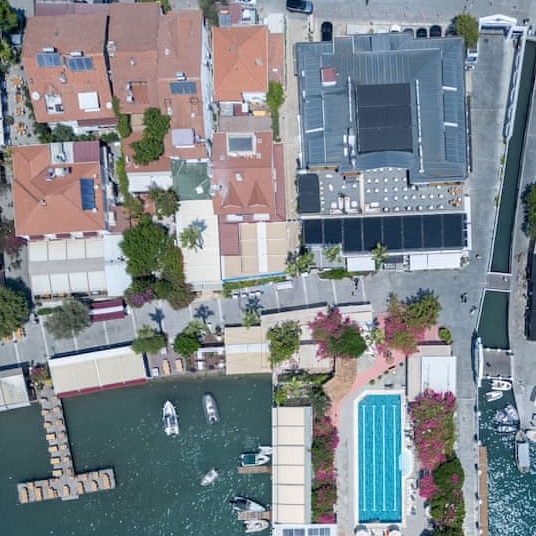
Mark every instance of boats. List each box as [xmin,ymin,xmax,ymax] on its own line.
[525,432,536,443]
[480,392,505,403]
[515,433,530,474]
[240,519,270,533]
[201,468,220,483]
[163,401,179,439]
[490,409,509,426]
[202,393,221,427]
[503,401,518,424]
[486,380,513,391]
[227,493,266,512]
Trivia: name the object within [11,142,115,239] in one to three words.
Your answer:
house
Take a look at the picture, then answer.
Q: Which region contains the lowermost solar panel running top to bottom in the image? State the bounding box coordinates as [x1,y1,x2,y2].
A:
[81,179,97,211]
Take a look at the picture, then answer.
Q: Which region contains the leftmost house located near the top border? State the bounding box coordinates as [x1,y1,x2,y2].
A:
[21,2,126,133]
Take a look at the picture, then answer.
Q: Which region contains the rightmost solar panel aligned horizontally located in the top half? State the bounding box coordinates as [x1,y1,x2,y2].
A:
[169,82,197,96]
